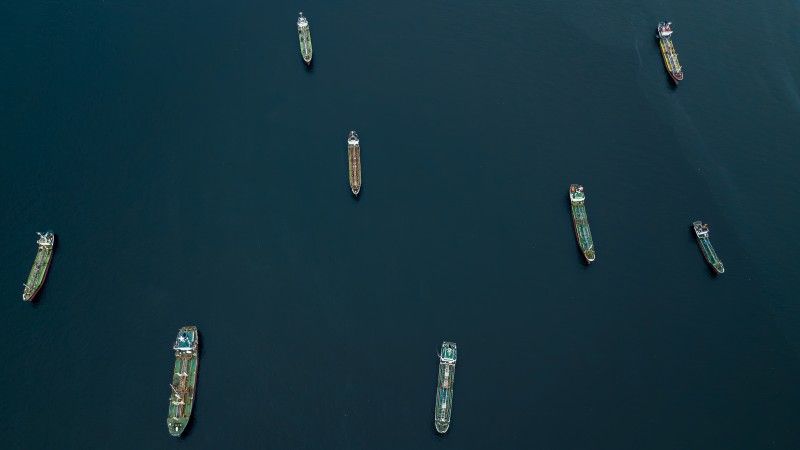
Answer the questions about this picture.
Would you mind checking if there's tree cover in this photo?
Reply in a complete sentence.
No, there is no tree cover in the image.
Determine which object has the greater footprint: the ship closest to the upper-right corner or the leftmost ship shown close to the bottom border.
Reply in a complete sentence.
The leftmost ship shown close to the bottom border covers a greater area than the ship closest to the upper-right corner.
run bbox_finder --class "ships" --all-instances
[297,13,312,66]
[658,24,684,83]
[348,129,361,198]
[22,230,56,302]
[168,326,198,439]
[570,184,595,266]
[435,341,456,434]
[692,222,723,275]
